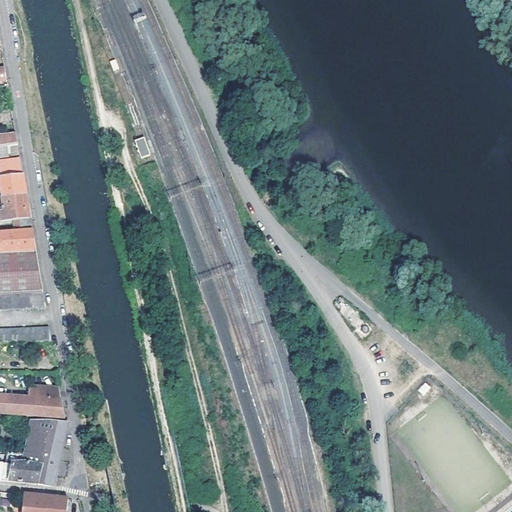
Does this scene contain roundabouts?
No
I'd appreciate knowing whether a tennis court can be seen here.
No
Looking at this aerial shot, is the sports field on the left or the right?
right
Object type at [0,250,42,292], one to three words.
building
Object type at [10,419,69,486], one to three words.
building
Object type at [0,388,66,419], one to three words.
house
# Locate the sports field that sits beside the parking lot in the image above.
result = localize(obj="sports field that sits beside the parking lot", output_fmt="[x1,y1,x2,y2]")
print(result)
[396,396,511,512]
